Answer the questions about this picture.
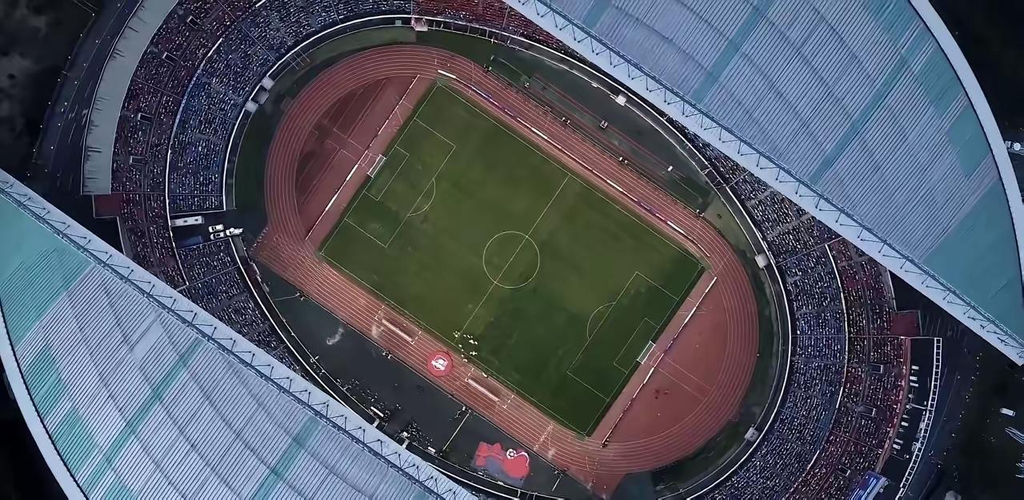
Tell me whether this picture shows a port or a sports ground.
sports ground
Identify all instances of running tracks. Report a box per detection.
[249,43,762,500]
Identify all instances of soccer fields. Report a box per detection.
[312,75,713,445]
